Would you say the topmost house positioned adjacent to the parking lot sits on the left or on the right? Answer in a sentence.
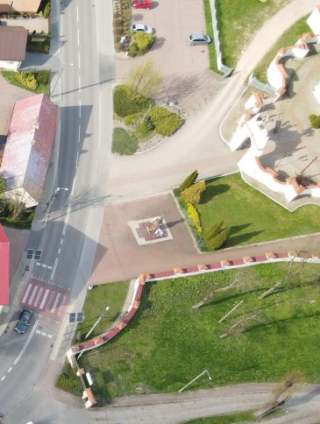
It is on the left.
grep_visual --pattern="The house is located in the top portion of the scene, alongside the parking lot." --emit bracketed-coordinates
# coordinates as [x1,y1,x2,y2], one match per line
[0,93,58,208]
